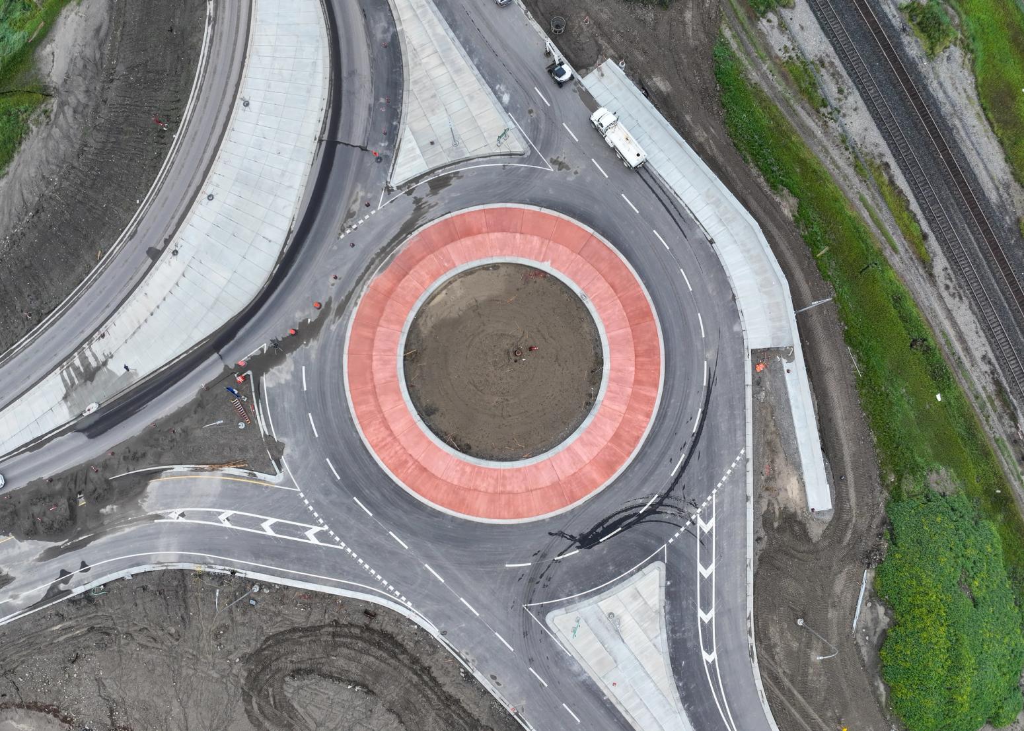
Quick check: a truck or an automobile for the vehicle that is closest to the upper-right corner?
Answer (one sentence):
Specifically, the vehicle that is closest to the upper-right corner is a truck.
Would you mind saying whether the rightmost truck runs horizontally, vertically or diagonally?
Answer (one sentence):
In this picture, the rightmost truck is oriented diagonally.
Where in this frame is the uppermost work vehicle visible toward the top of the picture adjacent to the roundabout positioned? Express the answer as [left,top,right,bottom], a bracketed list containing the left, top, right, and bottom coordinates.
[546,36,575,89]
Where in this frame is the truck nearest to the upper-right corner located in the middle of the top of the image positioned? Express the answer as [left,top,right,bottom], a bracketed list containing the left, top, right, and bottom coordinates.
[589,110,646,173]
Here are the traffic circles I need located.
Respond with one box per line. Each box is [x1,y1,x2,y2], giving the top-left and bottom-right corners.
[284,87,746,723]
